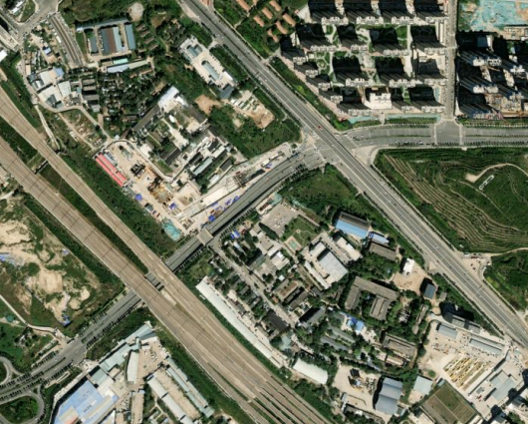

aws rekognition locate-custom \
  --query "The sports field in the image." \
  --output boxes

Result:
[421,378,477,424]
